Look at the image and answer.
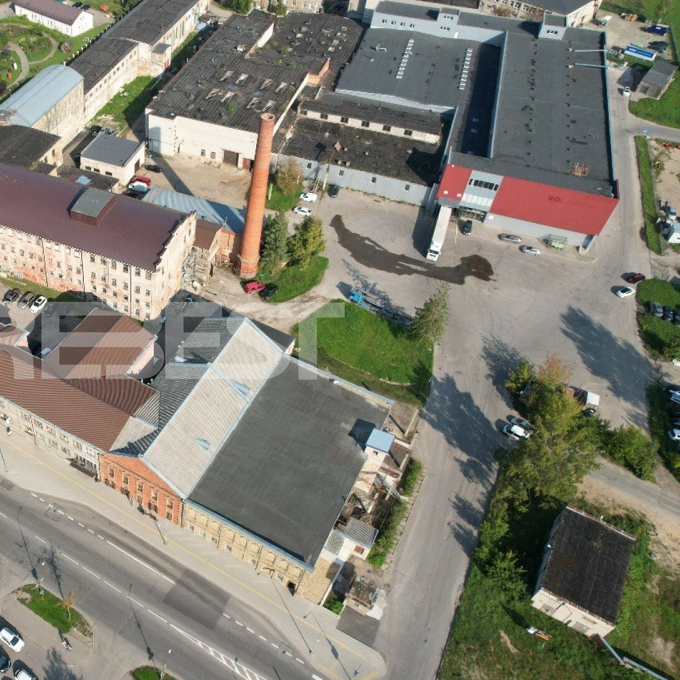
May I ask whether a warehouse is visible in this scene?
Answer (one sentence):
Yes, the frame does contain a warehouse.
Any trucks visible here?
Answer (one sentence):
Yes, you can see a truck in this photo.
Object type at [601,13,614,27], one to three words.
vehicle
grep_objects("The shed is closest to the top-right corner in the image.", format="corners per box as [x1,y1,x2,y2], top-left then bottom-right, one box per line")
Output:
[637,59,680,101]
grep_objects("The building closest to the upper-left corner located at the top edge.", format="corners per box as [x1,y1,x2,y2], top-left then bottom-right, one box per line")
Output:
[12,0,94,41]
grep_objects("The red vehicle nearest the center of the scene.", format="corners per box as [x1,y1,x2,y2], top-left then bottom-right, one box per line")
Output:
[243,280,266,293]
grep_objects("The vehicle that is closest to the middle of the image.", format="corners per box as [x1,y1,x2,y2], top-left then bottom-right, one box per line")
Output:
[342,293,410,335]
